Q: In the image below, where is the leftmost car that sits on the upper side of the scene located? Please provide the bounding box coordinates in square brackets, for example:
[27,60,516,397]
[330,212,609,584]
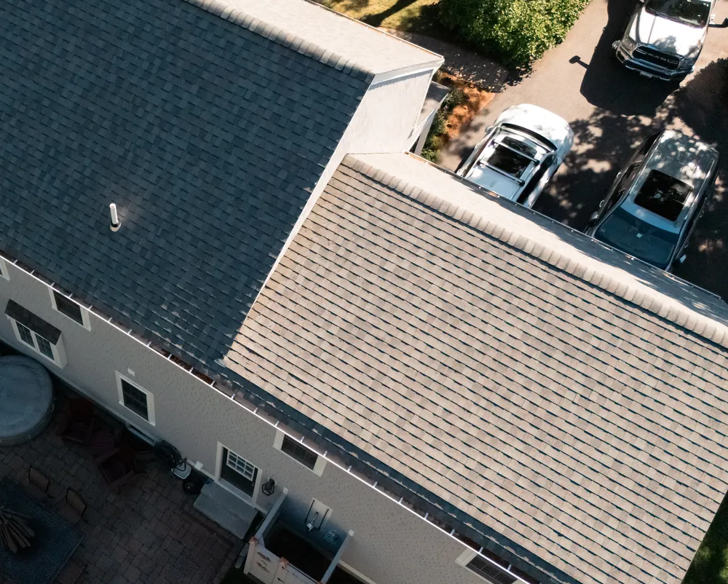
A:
[462,101,572,205]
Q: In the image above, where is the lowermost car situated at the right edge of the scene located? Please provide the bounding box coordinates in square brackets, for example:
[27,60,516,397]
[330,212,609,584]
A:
[586,123,725,270]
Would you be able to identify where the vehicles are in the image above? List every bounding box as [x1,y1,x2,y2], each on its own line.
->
[610,0,728,87]
[586,123,725,270]
[462,101,572,205]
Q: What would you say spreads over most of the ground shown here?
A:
buildings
